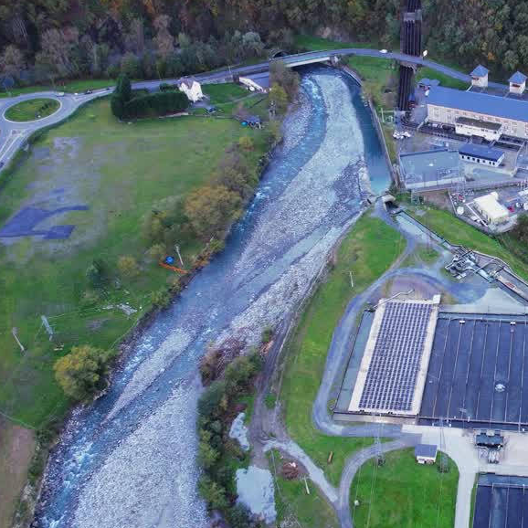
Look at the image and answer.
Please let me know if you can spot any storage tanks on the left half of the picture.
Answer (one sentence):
No, no storage tank can be made out on the left half of the picture.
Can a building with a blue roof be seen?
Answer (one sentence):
Yes, there's a building with a blue roof here.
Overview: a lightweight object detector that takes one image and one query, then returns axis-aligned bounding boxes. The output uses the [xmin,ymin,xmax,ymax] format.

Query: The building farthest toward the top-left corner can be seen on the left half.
[177,73,205,99]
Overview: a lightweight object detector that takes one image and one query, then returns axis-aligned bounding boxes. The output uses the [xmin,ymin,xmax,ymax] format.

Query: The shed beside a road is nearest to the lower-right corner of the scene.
[414,443,440,465]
